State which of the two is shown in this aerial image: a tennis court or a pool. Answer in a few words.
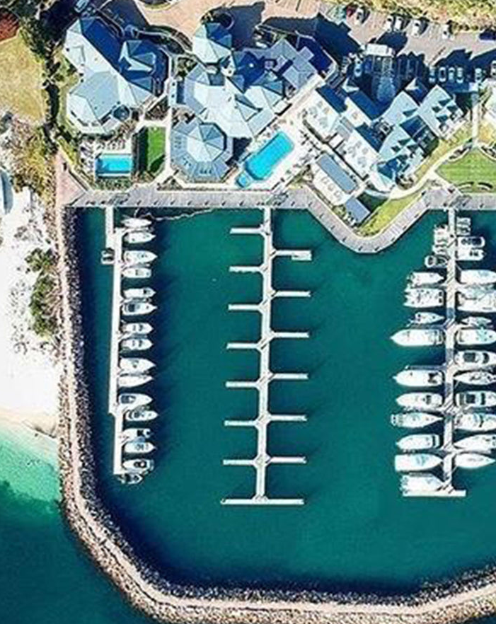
pool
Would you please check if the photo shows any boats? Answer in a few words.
Yes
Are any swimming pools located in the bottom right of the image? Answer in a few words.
No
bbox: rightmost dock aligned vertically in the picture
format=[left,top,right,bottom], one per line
[402,211,492,496]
